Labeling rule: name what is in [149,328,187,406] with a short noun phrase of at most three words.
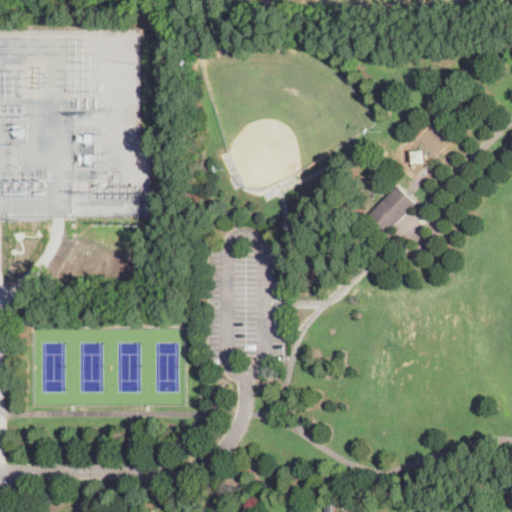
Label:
tennis court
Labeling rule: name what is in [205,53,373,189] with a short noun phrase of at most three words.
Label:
baseball field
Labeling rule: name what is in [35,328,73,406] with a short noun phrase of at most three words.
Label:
tennis court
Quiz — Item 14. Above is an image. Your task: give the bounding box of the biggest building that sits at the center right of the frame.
[368,187,414,230]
